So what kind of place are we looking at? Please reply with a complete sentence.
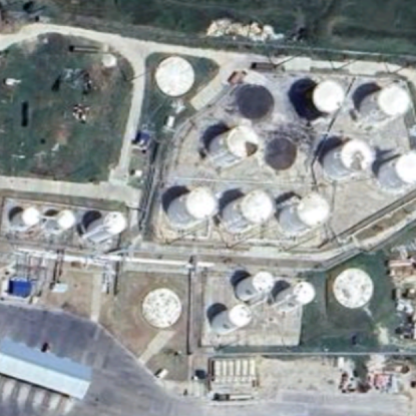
What you see here is an industrial area.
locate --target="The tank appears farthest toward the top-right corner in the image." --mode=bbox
[358,84,411,132]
